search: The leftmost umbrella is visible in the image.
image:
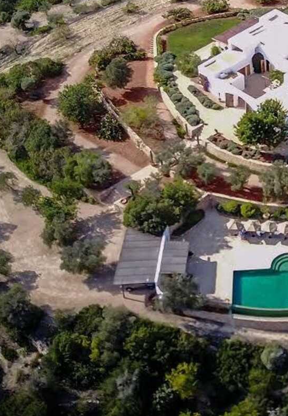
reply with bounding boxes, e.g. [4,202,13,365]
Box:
[225,222,243,239]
